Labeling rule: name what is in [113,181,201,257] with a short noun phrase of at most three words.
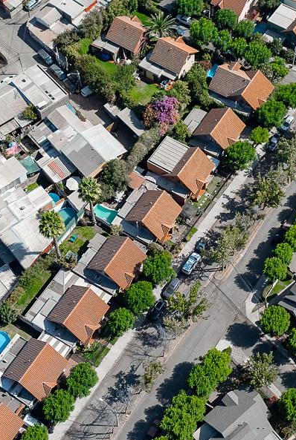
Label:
house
